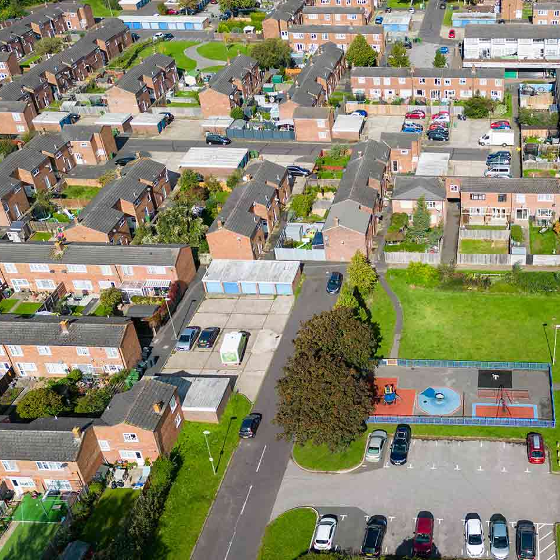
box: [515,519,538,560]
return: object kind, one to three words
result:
car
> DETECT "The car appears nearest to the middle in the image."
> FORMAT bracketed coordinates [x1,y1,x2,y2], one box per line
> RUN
[325,270,344,295]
